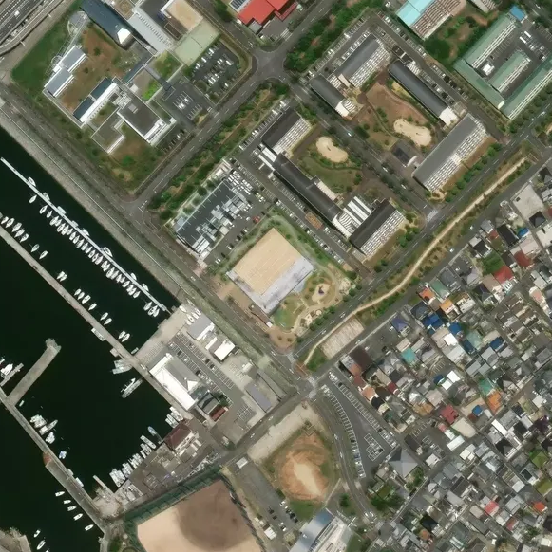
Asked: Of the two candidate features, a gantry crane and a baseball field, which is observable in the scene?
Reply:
baseball field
